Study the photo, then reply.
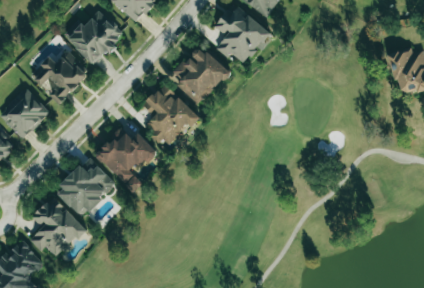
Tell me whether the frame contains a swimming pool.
Yes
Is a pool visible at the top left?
Yes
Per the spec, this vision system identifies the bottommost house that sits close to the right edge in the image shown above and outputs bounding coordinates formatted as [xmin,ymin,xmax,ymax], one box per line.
[386,46,424,96]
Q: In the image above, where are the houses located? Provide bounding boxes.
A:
[65,14,121,64]
[172,46,230,104]
[30,203,85,259]
[0,86,46,138]
[214,4,272,66]
[58,158,113,216]
[146,85,199,148]
[0,242,42,288]
[386,46,424,96]
[113,0,156,22]
[96,128,155,186]
[36,50,86,106]
[242,0,278,18]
